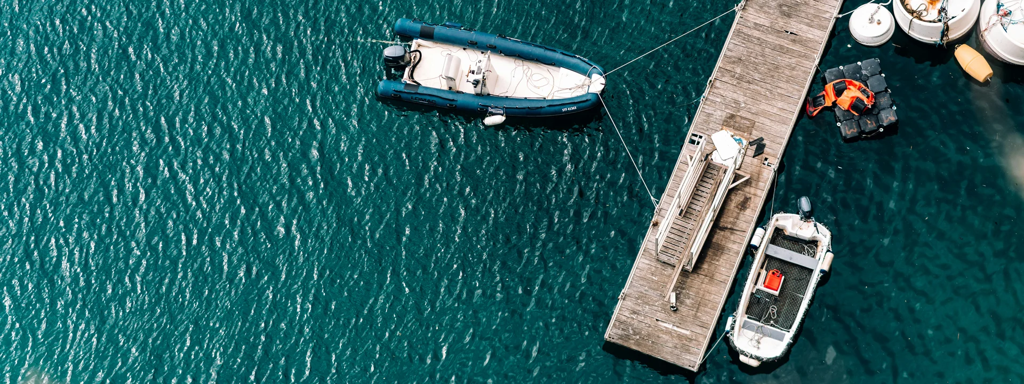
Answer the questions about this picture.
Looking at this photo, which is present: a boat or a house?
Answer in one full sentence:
Looking from above, you can make out a boat.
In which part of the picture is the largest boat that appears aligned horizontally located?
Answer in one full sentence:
You can find the largest boat that appears aligned horizontally in the top area of the picture.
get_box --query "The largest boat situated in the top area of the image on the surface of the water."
[378,19,607,118]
